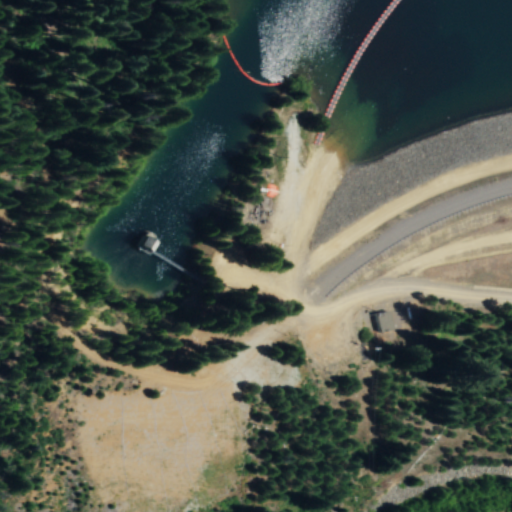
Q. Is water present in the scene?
Yes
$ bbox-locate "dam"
[311,113,512,294]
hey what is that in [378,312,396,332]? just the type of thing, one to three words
building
